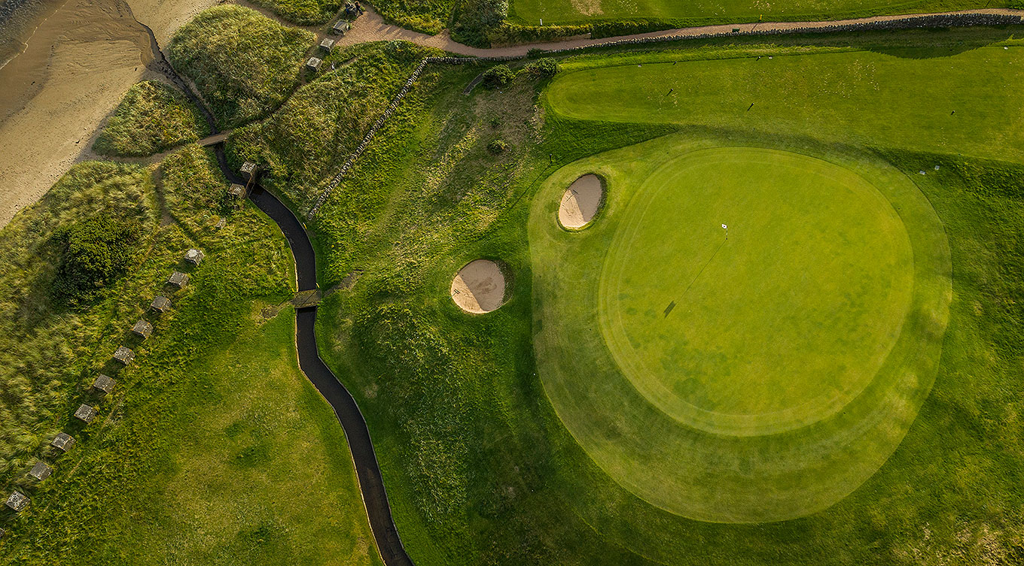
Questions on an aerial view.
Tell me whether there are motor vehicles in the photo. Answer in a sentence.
No, there appears to be no motor vehicle in this shot.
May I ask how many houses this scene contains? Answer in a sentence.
No houses are visible.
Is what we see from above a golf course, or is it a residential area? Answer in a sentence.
The area seen from above is a golf course.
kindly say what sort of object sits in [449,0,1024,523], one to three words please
golf course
